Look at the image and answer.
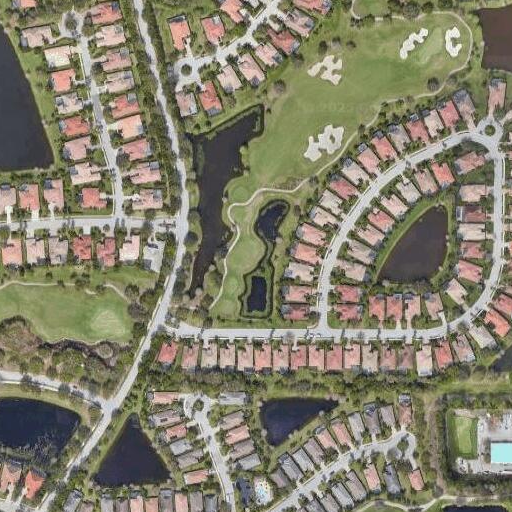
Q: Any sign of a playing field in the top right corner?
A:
No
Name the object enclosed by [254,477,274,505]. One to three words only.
swimming pool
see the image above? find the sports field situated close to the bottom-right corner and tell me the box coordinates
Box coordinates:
[448,412,478,459]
